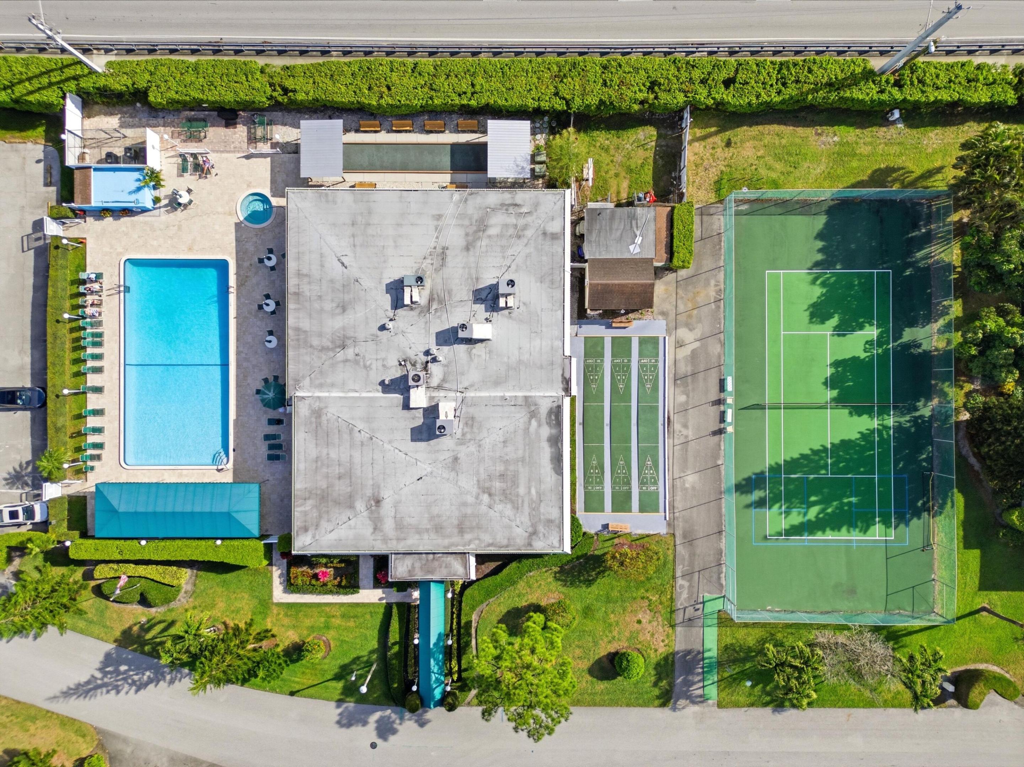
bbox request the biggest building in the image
[285,187,577,554]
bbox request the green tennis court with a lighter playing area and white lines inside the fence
[724,199,932,611]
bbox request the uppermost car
[0,383,48,411]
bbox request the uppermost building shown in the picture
[77,168,156,211]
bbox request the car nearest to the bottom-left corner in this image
[0,500,49,527]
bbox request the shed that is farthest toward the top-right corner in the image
[585,203,670,309]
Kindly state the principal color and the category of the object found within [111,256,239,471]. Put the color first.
blue swimming pool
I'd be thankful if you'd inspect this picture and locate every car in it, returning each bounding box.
[0,500,49,527]
[0,383,48,411]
